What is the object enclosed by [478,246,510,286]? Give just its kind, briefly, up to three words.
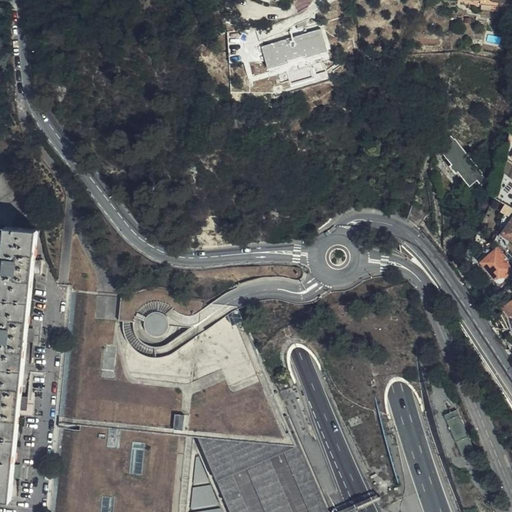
house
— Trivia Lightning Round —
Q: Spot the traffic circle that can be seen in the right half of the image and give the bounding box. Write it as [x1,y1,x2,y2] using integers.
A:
[307,226,370,288]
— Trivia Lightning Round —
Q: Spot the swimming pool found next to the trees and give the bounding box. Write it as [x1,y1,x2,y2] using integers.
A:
[484,31,501,46]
